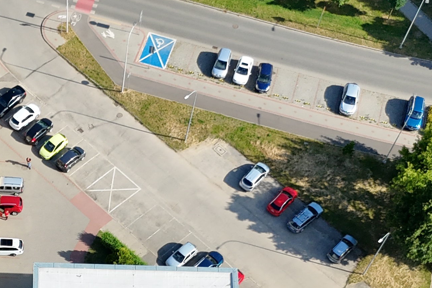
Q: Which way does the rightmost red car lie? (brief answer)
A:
diagonally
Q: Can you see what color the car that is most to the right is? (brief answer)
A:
blue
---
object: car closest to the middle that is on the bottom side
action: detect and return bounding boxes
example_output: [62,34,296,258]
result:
[238,163,271,195]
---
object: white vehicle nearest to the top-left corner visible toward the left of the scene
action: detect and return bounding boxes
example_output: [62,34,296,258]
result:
[6,104,40,134]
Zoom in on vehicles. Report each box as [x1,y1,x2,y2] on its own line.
[197,252,227,268]
[253,61,274,95]
[52,144,88,177]
[0,195,23,216]
[263,185,301,219]
[163,236,200,267]
[339,80,363,118]
[0,85,28,120]
[232,53,256,89]
[211,47,233,79]
[21,118,55,148]
[238,163,271,195]
[285,202,324,236]
[6,104,40,134]
[0,174,23,195]
[0,237,24,258]
[37,130,71,163]
[402,94,427,131]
